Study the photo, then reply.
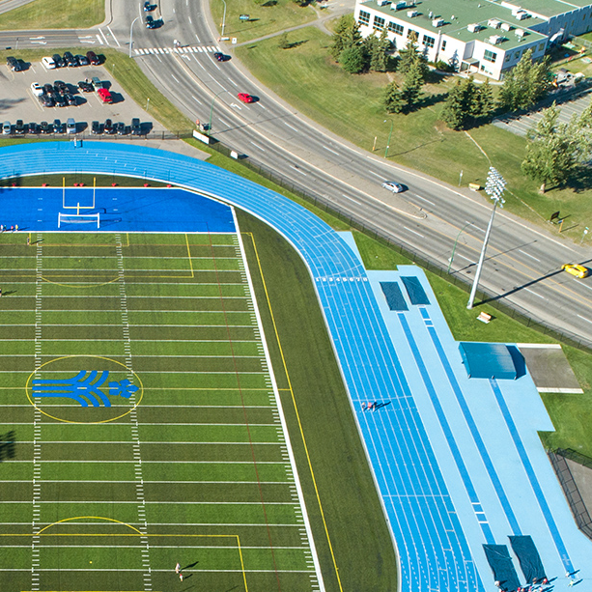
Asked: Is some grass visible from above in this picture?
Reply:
Yes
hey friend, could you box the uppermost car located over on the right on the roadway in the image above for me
[382,178,405,191]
